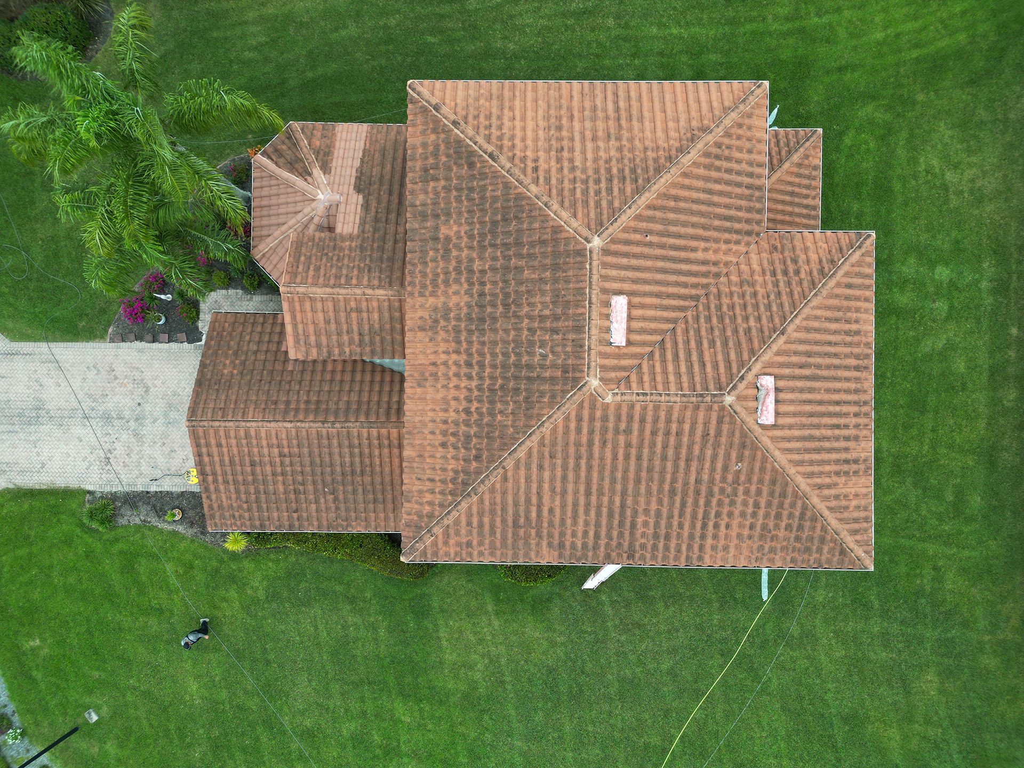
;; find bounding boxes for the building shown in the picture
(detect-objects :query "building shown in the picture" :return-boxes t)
[183,78,876,571]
